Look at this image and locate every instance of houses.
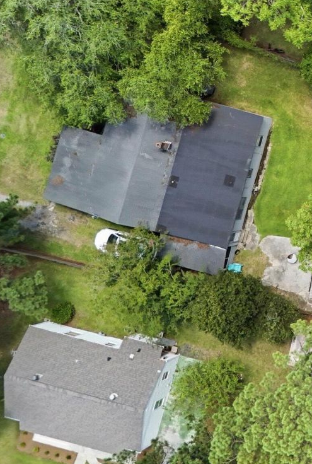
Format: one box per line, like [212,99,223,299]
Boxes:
[4,320,182,453]
[45,87,271,275]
